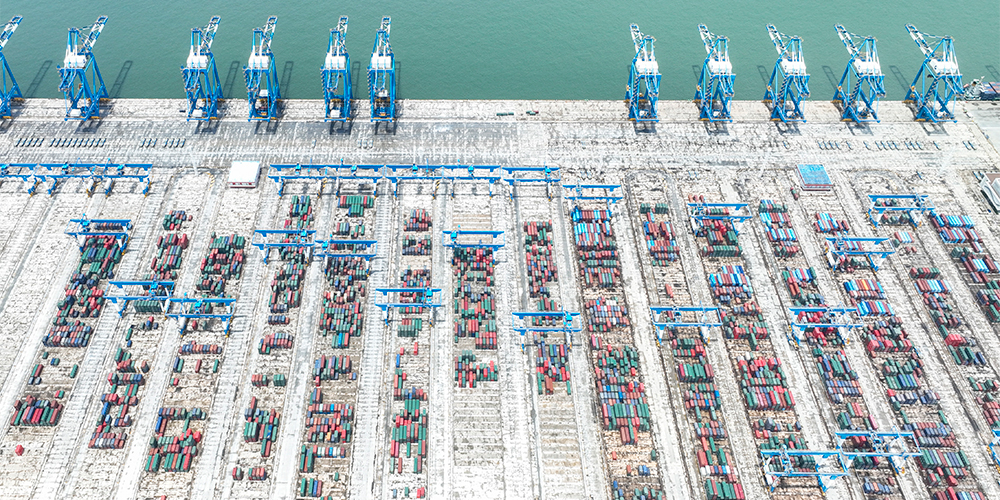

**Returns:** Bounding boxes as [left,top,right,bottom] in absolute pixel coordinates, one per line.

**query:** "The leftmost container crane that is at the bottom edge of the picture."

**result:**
[760,445,846,497]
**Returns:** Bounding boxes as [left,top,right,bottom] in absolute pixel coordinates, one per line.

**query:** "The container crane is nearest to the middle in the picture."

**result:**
[442,225,504,267]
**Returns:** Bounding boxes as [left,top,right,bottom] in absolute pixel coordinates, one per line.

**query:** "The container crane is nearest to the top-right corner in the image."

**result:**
[902,25,967,121]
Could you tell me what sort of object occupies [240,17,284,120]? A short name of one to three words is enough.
container crane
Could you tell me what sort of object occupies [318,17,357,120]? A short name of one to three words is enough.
container crane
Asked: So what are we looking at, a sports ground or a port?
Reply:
port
